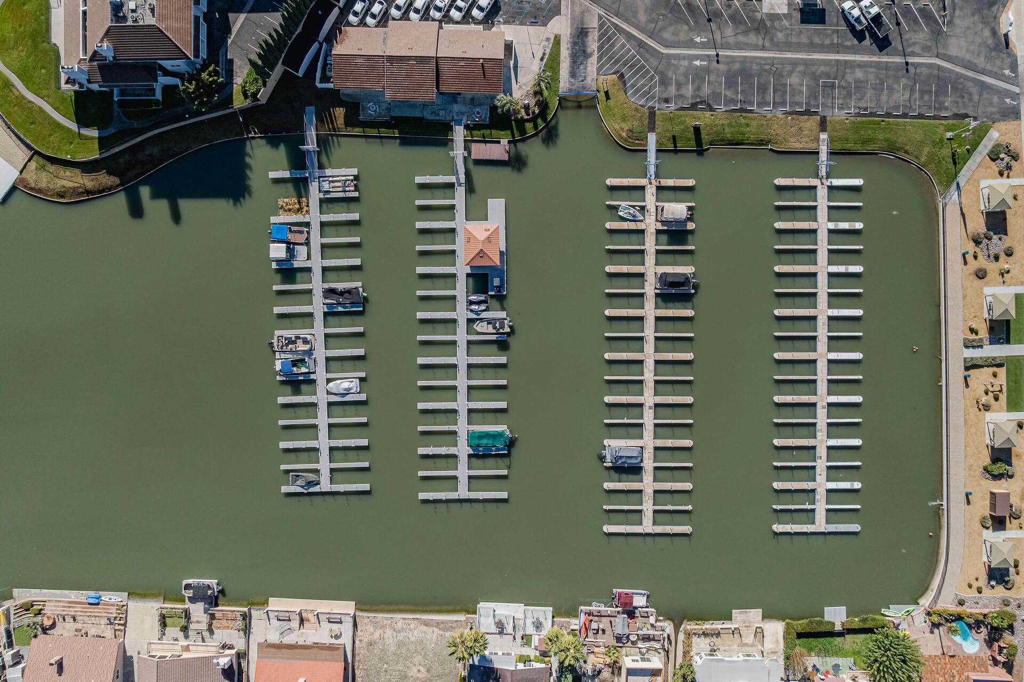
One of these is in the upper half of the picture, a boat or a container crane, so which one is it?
boat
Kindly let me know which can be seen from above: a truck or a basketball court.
truck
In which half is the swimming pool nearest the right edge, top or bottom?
bottom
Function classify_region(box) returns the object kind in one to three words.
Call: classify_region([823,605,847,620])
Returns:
pier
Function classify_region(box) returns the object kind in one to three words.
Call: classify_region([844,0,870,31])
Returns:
truck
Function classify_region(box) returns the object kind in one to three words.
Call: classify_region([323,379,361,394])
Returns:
boat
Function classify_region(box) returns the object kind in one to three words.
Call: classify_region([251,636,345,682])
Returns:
house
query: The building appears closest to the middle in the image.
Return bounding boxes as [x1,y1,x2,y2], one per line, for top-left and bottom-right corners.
[464,199,506,295]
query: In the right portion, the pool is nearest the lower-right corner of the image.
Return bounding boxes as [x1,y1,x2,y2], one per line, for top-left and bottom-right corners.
[951,620,981,655]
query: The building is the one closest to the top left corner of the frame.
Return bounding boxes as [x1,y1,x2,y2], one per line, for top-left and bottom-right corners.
[60,0,218,103]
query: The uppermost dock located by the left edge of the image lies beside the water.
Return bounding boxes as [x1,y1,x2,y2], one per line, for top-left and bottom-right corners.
[0,159,22,206]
